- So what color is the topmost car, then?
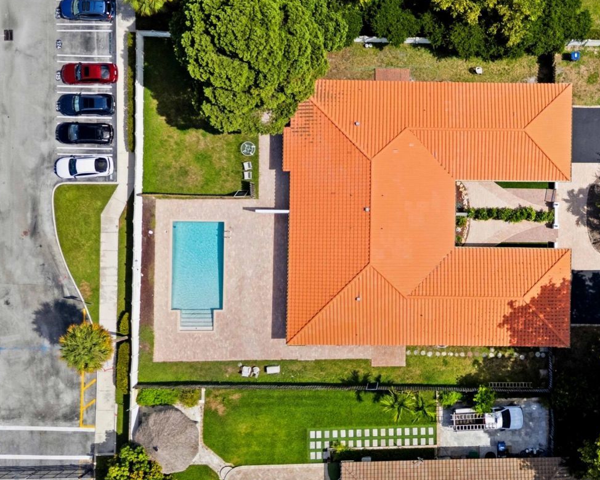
blue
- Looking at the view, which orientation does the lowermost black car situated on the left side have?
from side to side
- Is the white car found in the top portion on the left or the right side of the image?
left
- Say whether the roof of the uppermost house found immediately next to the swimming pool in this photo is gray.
No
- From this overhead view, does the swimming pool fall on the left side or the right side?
left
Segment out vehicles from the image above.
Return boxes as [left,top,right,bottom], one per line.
[59,0,118,24]
[57,155,118,182]
[58,91,118,118]
[58,120,117,147]
[62,60,121,87]
[451,405,523,436]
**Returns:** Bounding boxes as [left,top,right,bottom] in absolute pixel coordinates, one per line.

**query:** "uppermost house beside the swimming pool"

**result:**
[254,79,572,347]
